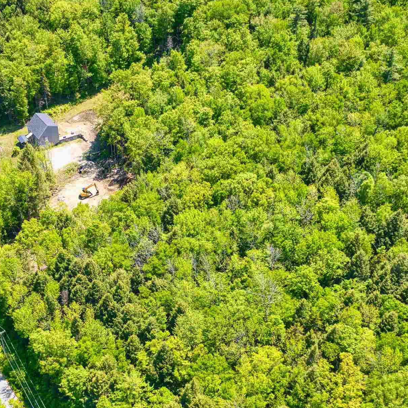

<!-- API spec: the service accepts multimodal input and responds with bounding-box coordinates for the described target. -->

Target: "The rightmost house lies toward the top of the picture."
[25,112,60,150]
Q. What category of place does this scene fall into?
forest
